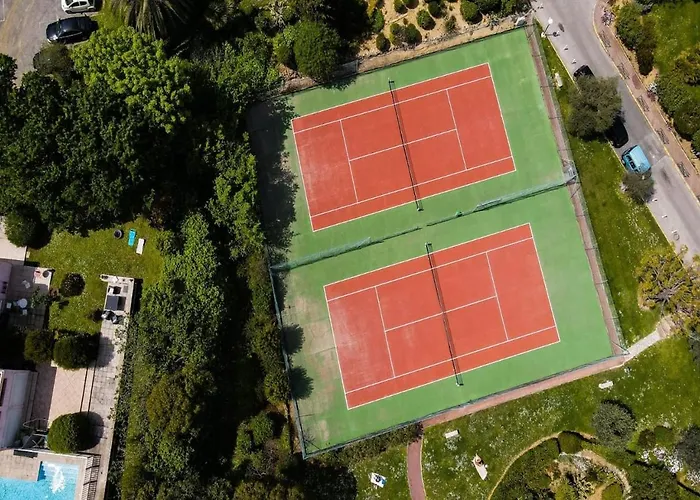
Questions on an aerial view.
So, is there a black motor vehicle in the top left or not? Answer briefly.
Yes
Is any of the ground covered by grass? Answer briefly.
Yes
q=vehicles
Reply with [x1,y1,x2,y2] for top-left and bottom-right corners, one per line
[617,146,651,179]
[596,114,630,149]
[49,17,95,42]
[569,62,600,92]
[60,0,96,16]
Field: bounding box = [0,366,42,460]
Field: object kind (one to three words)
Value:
house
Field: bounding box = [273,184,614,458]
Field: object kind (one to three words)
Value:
tennis court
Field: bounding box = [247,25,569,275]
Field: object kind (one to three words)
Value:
tennis court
